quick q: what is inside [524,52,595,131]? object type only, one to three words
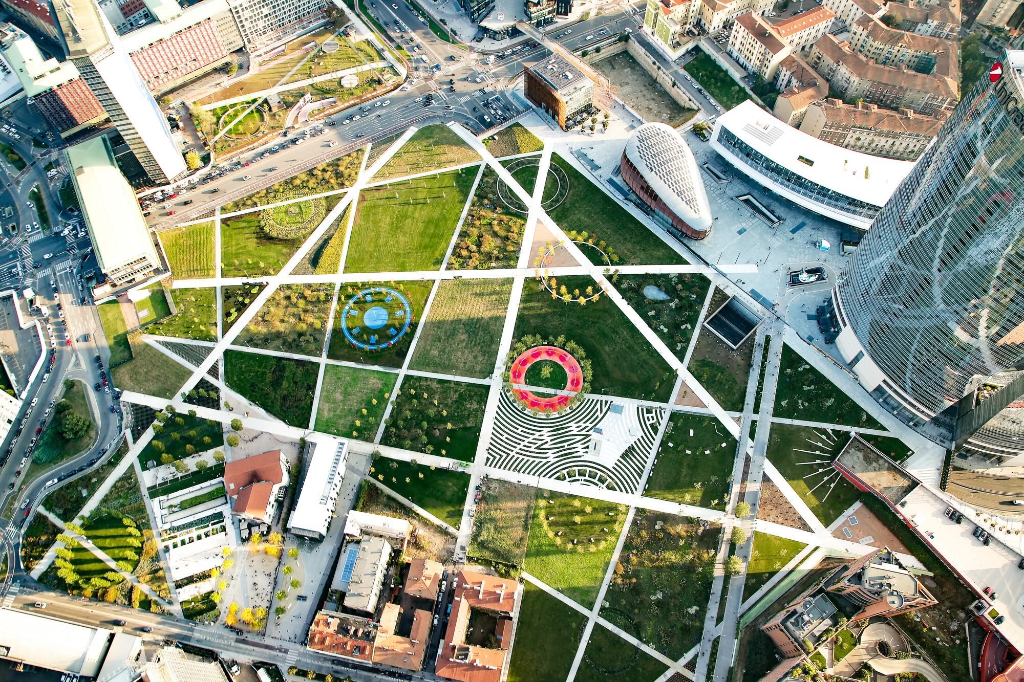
building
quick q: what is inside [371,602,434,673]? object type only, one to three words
house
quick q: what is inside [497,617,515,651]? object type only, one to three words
shed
